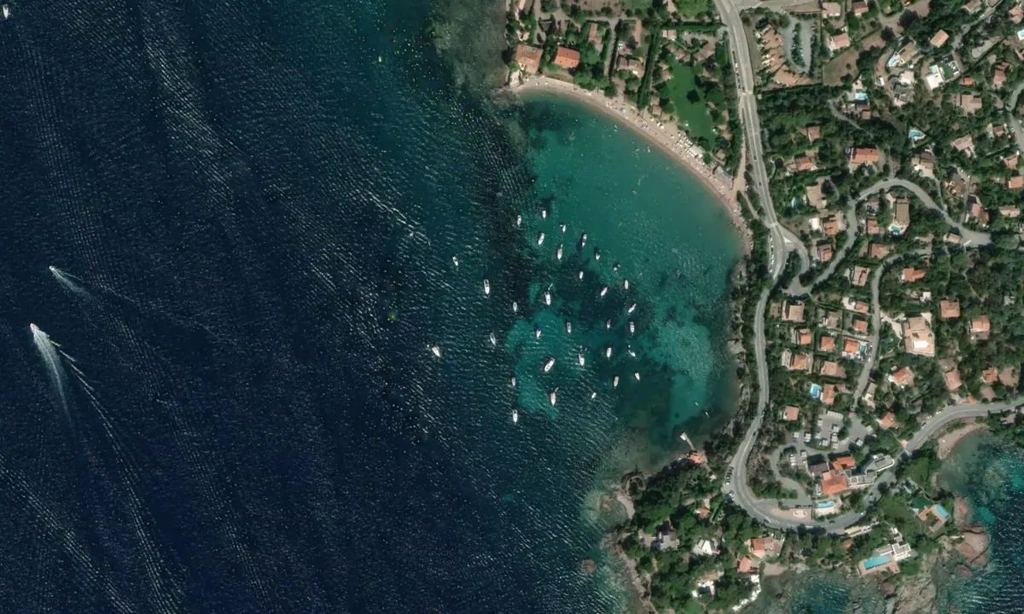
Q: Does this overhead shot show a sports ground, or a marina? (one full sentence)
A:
It's a marina.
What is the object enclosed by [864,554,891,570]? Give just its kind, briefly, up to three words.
swimming pool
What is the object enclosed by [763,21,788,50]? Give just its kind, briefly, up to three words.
house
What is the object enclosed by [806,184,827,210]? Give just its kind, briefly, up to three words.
house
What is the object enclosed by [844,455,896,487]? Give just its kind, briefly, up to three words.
building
